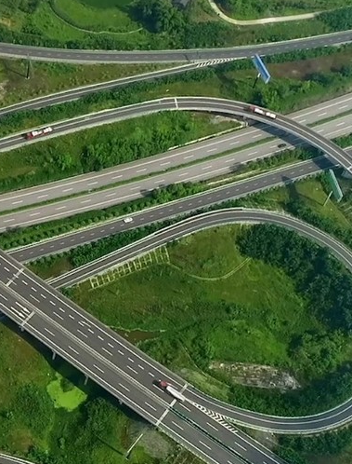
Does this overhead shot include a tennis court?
No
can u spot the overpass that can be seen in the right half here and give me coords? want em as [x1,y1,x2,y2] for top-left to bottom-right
[172,96,352,171]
